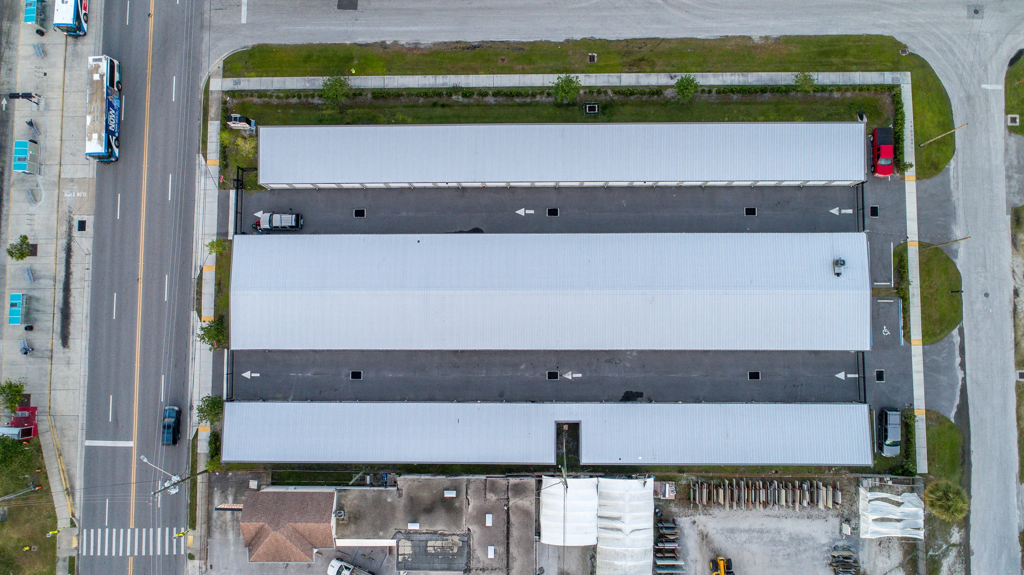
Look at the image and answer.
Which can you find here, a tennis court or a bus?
bus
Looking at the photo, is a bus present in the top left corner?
Yes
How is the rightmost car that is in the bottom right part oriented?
vertically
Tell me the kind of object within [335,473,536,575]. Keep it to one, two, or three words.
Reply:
building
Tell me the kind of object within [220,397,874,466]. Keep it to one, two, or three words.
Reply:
building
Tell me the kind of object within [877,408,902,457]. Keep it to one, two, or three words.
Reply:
car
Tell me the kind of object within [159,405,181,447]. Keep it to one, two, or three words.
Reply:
truck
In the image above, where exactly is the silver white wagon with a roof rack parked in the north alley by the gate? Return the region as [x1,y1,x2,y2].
[261,211,304,231]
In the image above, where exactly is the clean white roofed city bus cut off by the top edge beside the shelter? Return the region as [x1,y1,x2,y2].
[56,0,91,38]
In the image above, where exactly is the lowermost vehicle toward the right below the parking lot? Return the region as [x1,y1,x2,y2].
[707,555,731,575]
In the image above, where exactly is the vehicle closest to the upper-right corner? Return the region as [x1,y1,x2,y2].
[870,126,895,177]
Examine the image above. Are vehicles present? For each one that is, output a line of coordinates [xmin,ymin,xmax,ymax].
[261,211,304,231]
[85,55,121,163]
[56,0,91,38]
[870,126,895,177]
[877,408,902,457]
[159,405,181,447]
[707,555,731,575]
[328,557,379,575]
